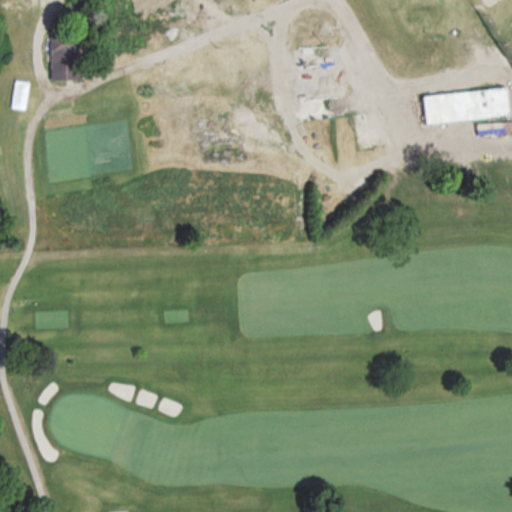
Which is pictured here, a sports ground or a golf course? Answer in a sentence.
The picture captures a golf course.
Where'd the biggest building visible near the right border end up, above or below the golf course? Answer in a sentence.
The biggest building visible near the right border appears above the golf course in the picture.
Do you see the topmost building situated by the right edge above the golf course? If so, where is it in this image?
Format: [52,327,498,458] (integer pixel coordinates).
[424,88,510,125]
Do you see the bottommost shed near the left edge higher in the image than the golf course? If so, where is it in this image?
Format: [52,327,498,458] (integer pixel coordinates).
[11,79,30,111]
